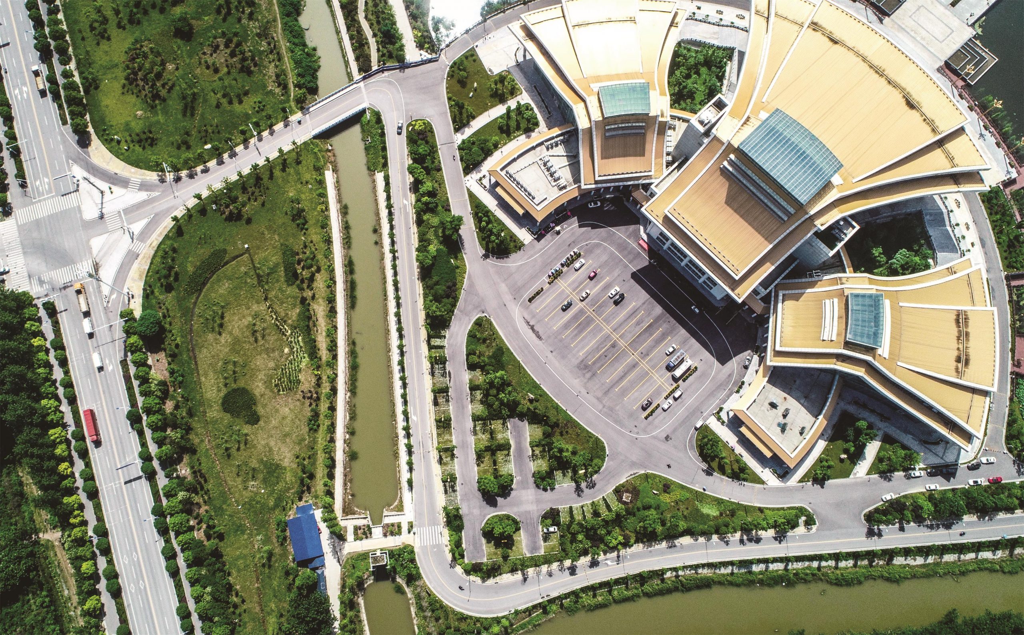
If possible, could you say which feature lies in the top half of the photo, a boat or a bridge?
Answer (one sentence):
The feature located in the top half of the photo is a bridge.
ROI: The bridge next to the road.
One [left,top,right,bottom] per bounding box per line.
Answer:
[303,77,368,137]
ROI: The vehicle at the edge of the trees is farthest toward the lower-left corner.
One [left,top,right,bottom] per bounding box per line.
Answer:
[78,408,100,443]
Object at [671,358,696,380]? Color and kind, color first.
white bus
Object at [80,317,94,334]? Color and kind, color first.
white vehicle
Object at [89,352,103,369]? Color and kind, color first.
white vehicle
